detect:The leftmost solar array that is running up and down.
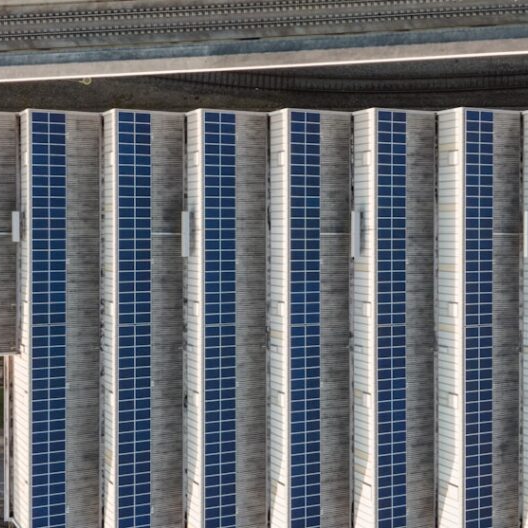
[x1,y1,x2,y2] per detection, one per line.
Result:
[31,111,69,528]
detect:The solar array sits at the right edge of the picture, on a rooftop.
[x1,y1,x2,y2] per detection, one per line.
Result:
[466,110,521,528]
